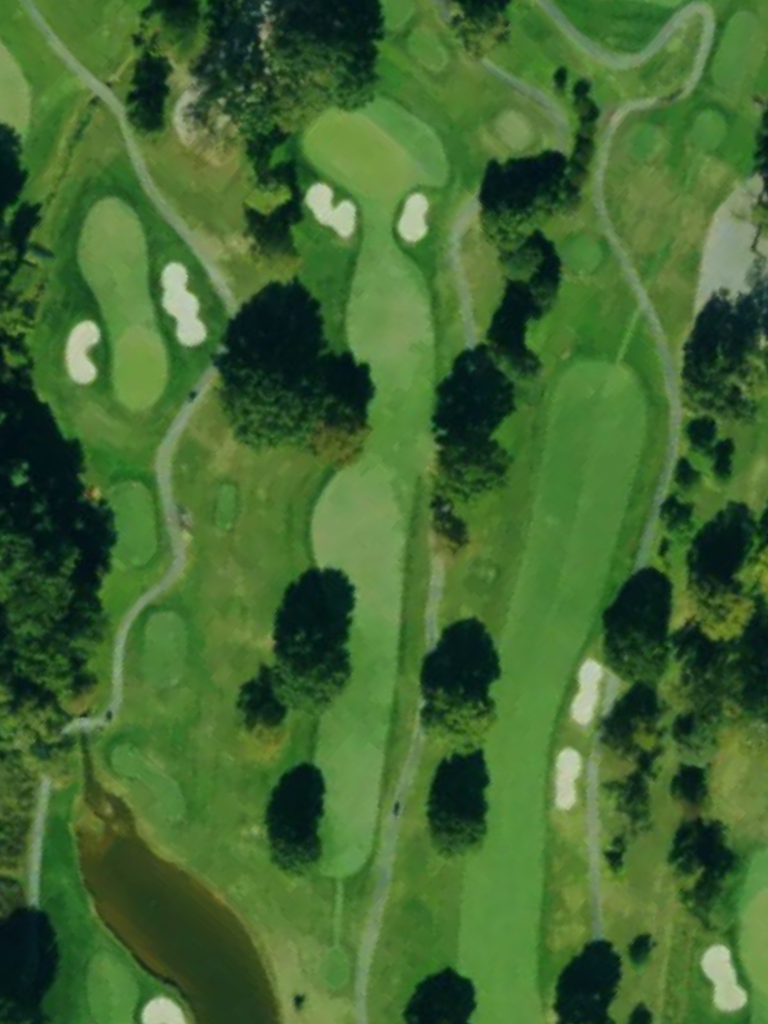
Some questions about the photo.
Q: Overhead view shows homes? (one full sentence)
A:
No, the frame has no home in it.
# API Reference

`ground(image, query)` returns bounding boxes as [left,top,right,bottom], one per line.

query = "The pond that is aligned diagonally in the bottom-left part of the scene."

[78,707,281,1024]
